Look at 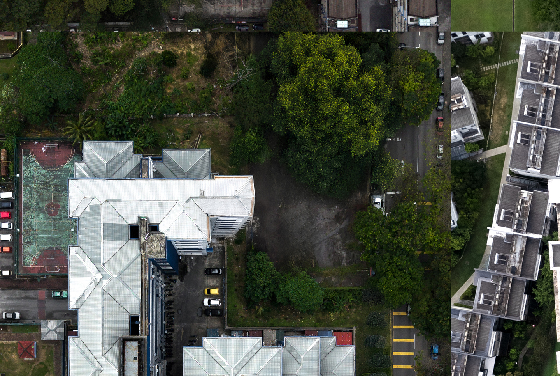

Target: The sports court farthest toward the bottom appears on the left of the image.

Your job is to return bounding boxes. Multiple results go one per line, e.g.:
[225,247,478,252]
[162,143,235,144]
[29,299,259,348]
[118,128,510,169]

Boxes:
[23,153,82,266]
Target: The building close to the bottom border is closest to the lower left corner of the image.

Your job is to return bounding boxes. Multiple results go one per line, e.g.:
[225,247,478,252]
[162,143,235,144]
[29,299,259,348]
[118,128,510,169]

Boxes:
[17,338,39,359]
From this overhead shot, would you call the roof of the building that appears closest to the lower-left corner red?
Yes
